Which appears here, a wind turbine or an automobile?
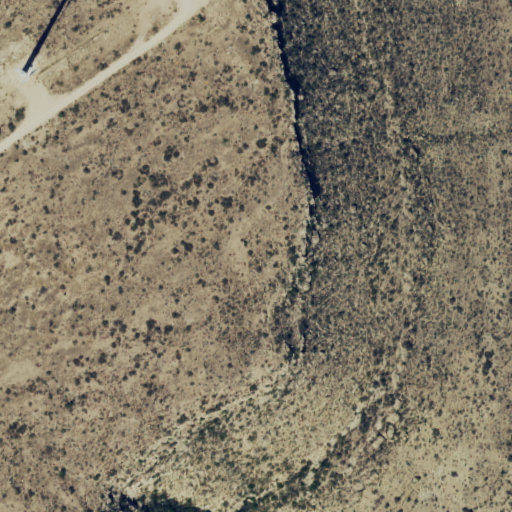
wind turbine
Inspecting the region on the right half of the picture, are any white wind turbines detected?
No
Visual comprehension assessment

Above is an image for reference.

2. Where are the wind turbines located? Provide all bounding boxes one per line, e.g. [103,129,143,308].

[8,50,44,102]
